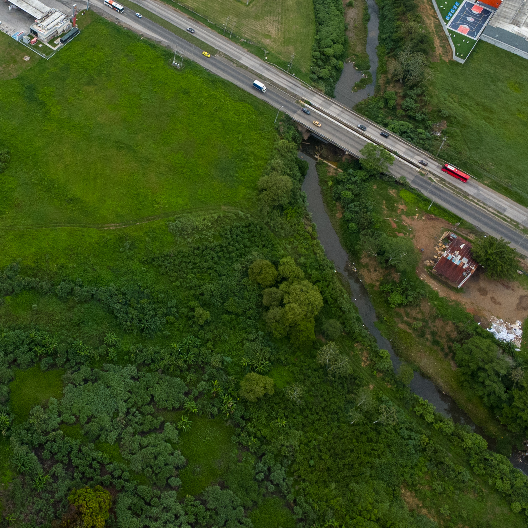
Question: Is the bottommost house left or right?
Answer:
right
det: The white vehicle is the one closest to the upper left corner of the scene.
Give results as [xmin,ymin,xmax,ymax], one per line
[105,0,123,12]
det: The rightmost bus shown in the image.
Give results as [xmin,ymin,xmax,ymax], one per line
[441,162,471,183]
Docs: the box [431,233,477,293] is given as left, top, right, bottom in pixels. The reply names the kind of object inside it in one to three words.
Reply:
house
